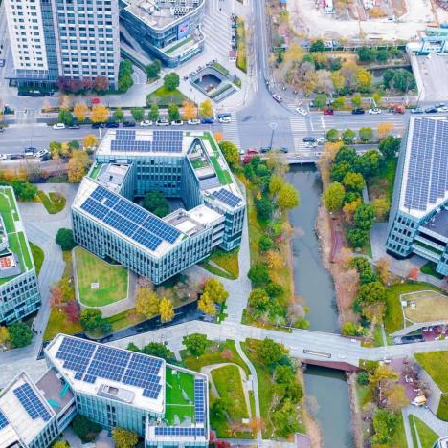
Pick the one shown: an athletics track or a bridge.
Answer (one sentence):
The one in the frame is a bridge.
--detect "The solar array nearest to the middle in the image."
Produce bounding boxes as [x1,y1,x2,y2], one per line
[213,188,242,205]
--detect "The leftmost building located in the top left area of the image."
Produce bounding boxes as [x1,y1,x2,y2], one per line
[2,0,119,92]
